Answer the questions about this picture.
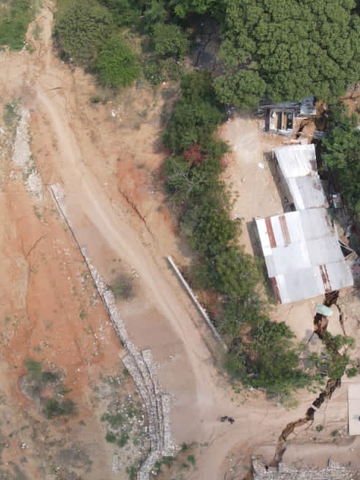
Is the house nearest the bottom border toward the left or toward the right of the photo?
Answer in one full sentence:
The house nearest the bottom border appears in the right half of the scene.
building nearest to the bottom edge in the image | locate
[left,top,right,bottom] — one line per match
[255,206,354,305]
